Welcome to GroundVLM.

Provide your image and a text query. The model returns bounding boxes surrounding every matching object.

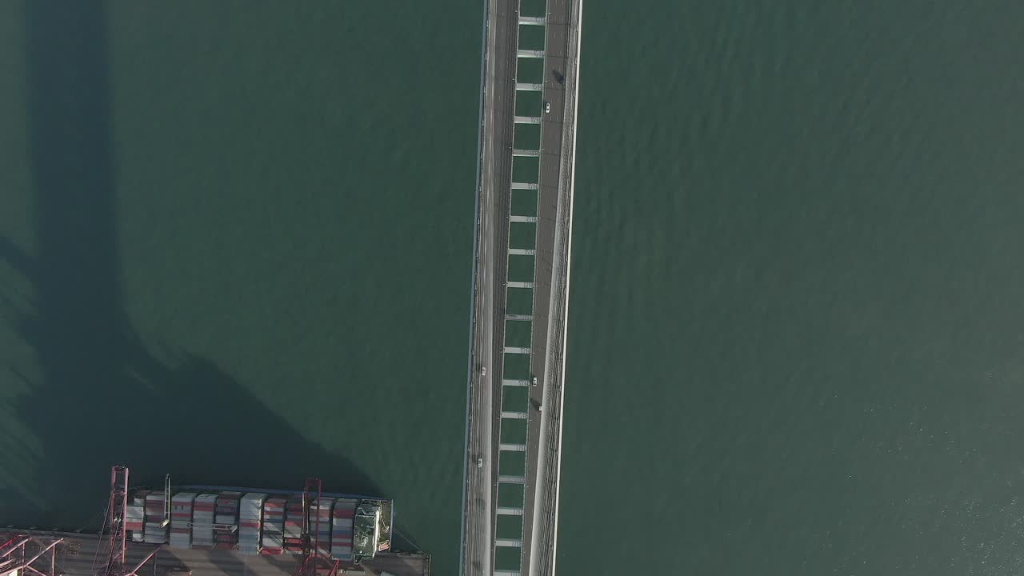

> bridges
[460,0,582,576]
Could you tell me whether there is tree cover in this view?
No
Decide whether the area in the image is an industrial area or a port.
port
